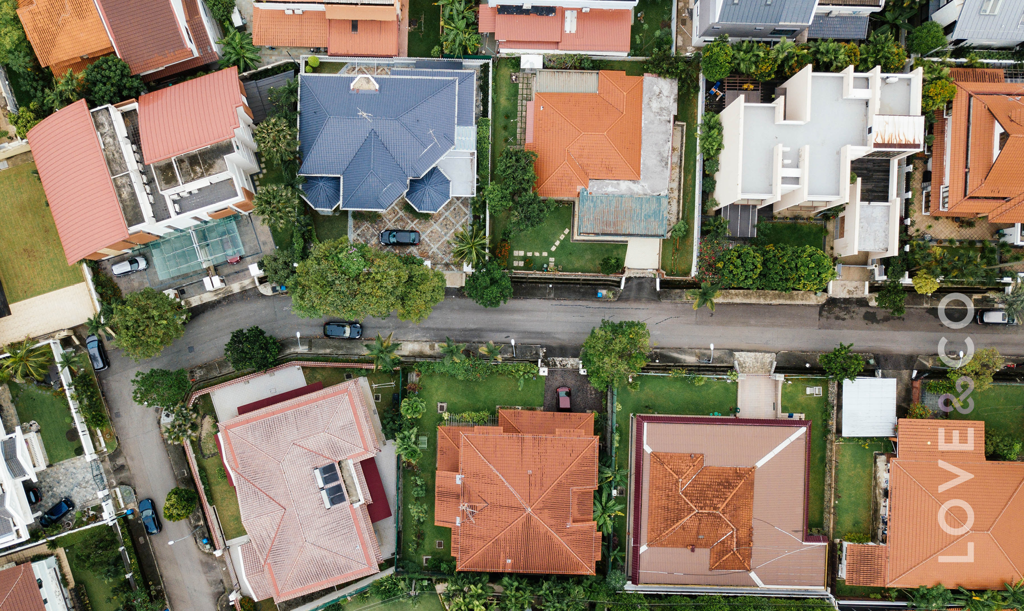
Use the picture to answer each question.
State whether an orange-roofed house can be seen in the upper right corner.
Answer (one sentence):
Yes, an orange-roofed house appears in the upper right corner.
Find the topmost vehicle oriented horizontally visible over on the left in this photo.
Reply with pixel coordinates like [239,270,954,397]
[380,227,421,247]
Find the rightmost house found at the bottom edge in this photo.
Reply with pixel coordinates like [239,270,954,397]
[832,418,1024,590]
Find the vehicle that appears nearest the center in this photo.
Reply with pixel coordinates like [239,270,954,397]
[554,382,573,412]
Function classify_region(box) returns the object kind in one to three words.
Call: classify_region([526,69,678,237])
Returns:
house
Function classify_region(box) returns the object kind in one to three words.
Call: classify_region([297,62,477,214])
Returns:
house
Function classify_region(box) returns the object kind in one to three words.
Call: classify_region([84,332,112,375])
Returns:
car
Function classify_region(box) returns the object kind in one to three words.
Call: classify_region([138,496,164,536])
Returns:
car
